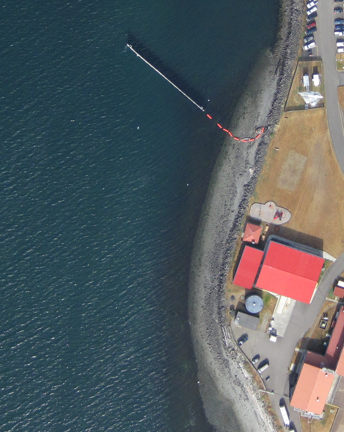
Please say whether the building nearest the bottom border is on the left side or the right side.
right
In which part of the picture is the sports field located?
right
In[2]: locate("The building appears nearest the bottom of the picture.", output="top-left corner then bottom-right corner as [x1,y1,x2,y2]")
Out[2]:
[289,364,335,422]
